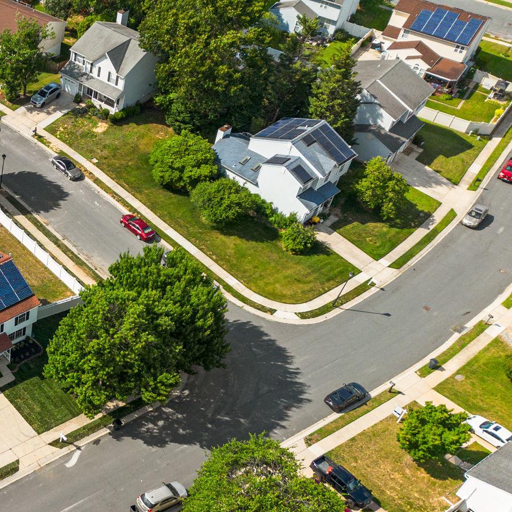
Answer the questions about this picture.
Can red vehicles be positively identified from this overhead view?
Yes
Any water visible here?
No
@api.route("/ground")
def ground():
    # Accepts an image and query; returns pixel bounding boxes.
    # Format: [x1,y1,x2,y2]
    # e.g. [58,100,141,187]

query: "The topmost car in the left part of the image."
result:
[33,80,61,105]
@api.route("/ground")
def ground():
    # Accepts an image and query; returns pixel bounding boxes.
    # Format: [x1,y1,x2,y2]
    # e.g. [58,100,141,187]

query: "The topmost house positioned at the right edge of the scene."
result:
[377,0,493,94]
